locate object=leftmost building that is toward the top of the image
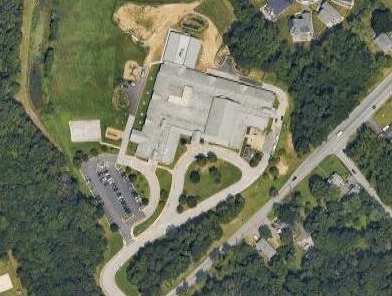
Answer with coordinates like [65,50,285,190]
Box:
[130,28,275,165]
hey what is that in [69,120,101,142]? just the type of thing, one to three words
sports court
